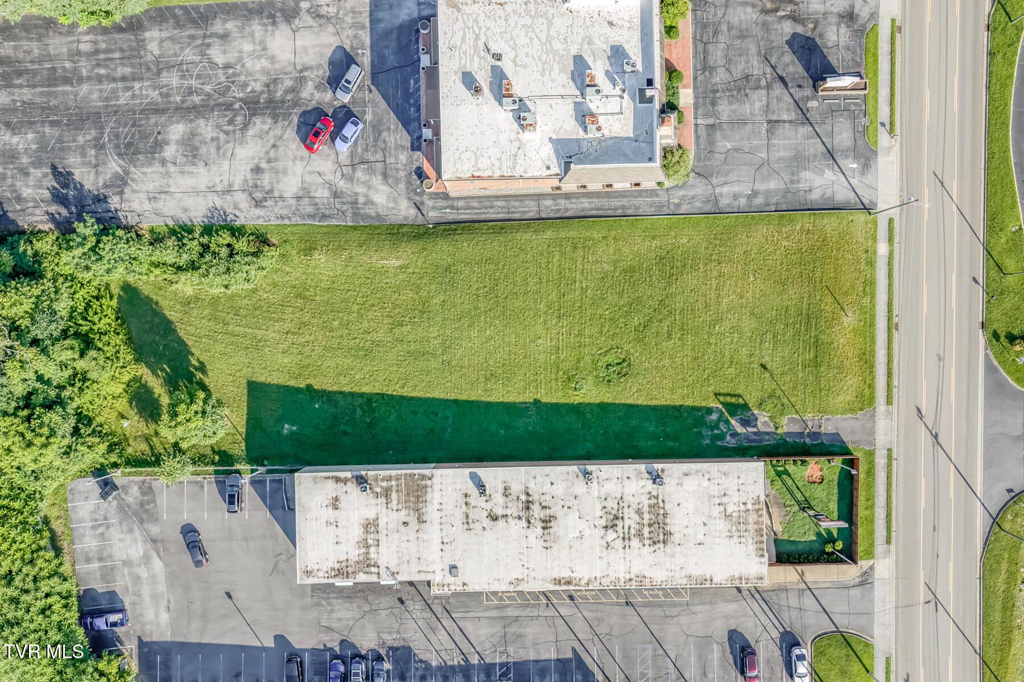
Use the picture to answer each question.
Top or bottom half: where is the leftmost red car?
top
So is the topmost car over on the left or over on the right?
left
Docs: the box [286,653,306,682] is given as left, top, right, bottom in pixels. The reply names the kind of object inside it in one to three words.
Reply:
vehicle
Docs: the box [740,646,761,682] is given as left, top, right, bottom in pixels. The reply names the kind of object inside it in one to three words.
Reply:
car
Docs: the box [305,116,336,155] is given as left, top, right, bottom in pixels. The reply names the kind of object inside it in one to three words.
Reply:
car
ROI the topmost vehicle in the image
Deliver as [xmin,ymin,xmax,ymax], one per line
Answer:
[336,63,366,104]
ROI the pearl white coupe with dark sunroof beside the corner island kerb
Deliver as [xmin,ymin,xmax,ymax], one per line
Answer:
[788,645,808,682]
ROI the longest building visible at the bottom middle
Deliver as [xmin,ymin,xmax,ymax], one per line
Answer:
[296,457,769,595]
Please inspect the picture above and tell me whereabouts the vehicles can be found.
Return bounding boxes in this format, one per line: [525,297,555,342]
[348,655,367,682]
[85,608,132,631]
[788,645,808,682]
[336,63,366,104]
[740,646,761,682]
[225,474,244,513]
[305,116,336,155]
[336,115,364,154]
[328,657,346,682]
[369,657,388,682]
[286,653,306,682]
[186,528,212,570]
